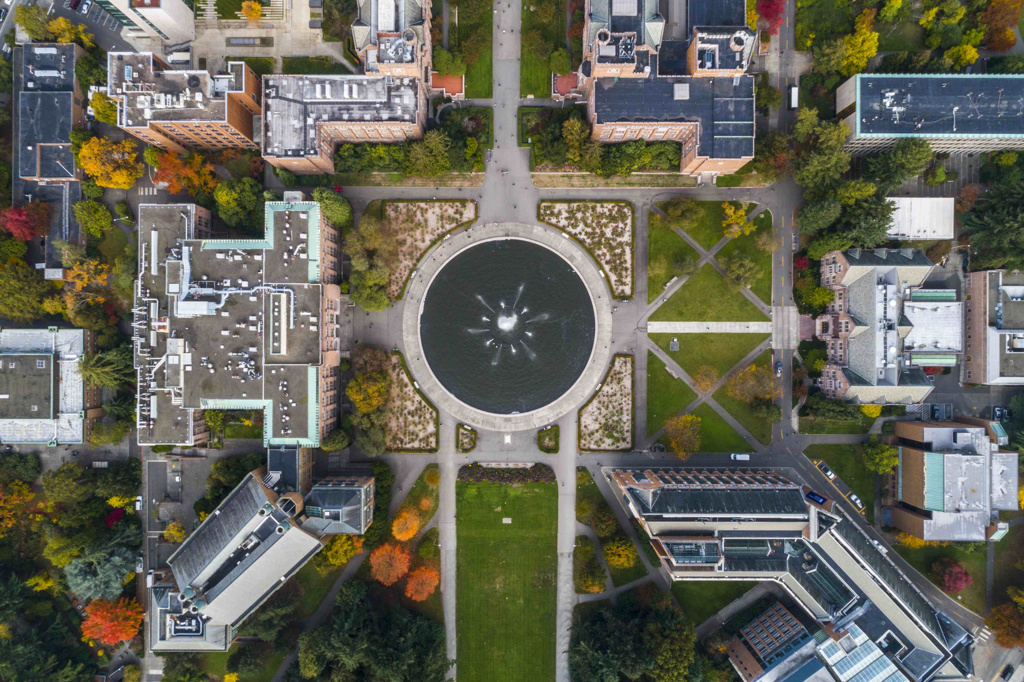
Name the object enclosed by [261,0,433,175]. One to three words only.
building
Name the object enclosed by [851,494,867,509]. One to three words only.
vehicle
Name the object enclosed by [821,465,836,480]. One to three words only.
vehicle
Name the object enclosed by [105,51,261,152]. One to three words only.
building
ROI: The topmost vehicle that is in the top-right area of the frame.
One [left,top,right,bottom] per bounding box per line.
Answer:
[789,82,803,110]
